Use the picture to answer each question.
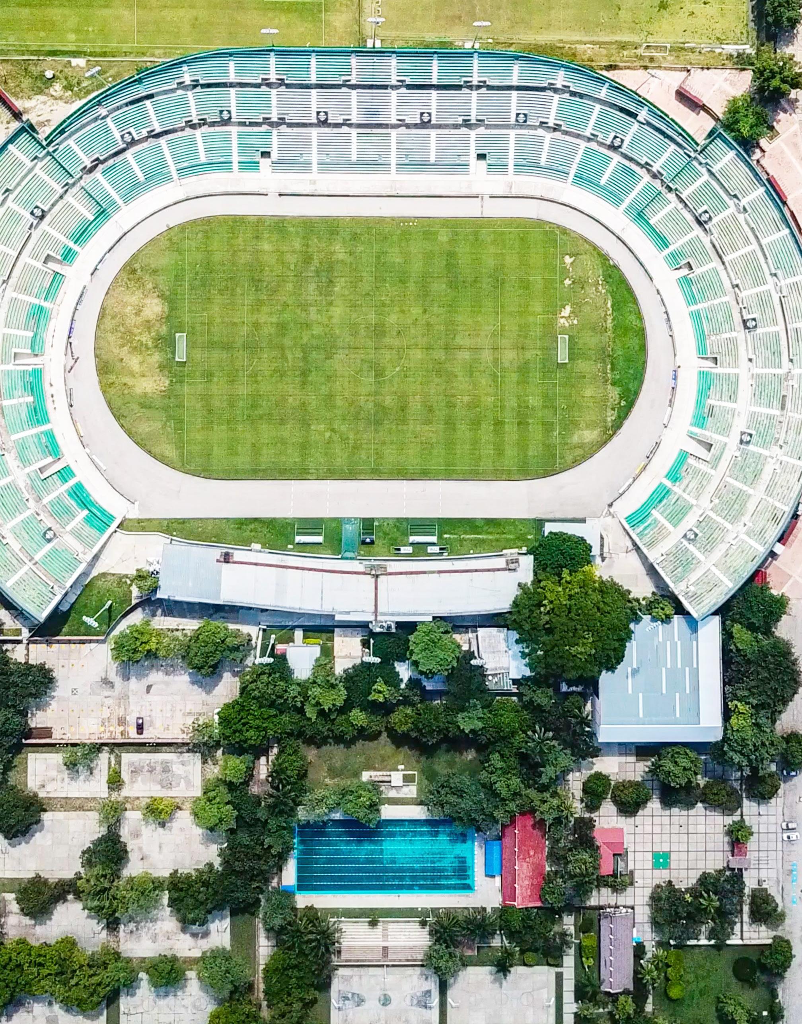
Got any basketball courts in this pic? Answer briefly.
Yes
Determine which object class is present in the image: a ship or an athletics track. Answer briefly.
athletics track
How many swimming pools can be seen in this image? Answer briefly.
1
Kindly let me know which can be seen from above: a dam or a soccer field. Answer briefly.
soccer field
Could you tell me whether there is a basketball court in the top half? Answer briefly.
No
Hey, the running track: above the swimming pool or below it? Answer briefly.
above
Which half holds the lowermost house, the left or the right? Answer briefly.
right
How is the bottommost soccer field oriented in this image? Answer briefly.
horizontally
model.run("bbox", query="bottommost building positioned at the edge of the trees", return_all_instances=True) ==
[600,908,634,992]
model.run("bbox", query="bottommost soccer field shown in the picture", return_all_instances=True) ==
[94,216,648,480]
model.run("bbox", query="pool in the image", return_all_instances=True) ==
[281,806,502,908]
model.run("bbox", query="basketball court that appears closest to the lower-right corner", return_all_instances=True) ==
[447,967,555,1024]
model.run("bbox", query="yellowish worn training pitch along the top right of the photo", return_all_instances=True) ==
[377,0,749,42]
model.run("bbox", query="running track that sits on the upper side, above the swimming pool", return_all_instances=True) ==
[64,194,676,517]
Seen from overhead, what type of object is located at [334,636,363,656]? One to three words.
building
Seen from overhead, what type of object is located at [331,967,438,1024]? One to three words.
basketball court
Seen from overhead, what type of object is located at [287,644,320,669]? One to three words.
shed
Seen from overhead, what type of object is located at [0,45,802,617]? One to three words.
stadium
